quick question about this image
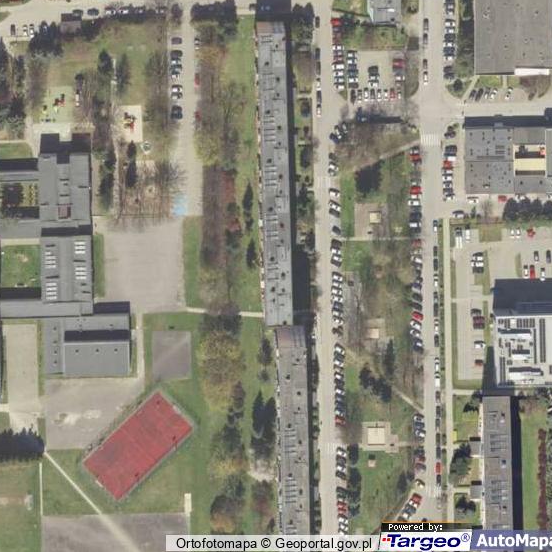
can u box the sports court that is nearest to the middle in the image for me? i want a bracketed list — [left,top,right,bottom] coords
[152,328,191,380]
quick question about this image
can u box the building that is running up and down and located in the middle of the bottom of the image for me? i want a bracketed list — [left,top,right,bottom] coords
[273,326,310,552]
